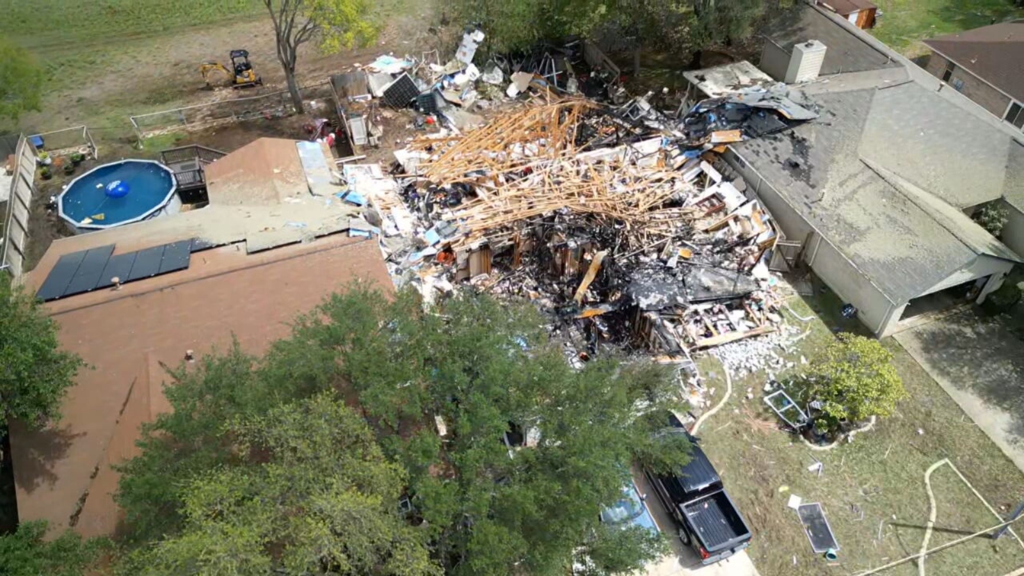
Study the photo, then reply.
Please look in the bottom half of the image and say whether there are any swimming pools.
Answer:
No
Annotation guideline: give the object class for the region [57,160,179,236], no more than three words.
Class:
swimming pool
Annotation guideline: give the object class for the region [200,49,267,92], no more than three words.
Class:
work vehicle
